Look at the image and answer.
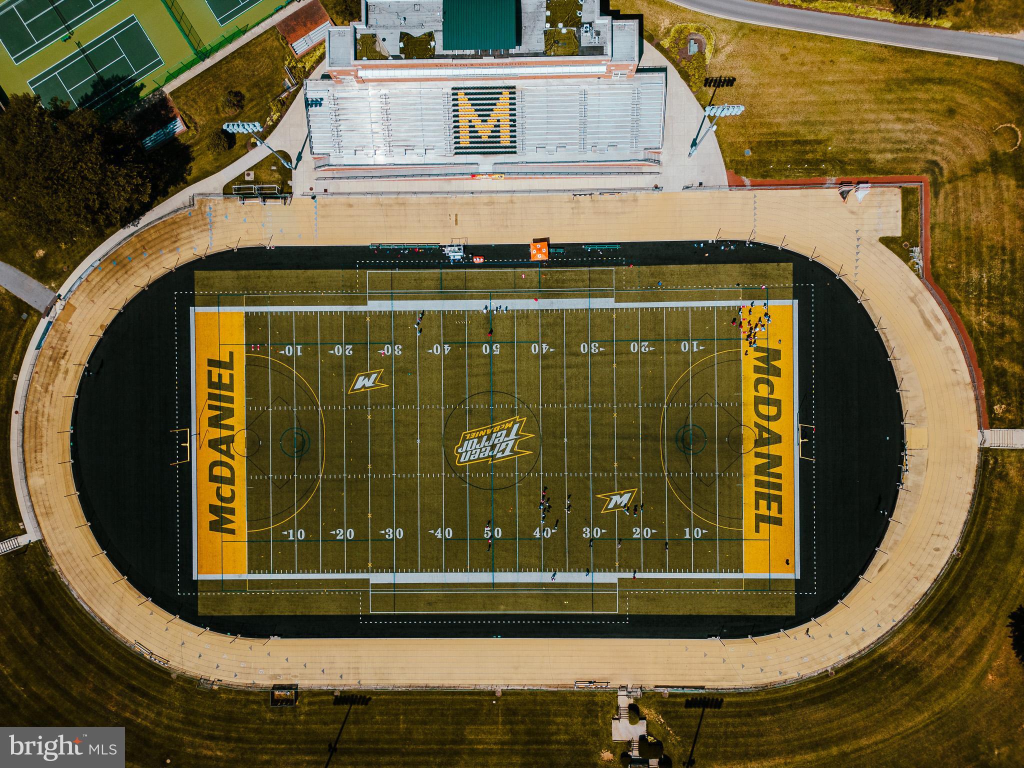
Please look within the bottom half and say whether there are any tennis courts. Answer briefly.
No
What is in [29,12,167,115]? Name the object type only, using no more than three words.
tennis court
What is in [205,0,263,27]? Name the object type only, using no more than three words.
tennis court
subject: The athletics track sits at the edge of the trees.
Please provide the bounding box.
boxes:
[22,188,978,686]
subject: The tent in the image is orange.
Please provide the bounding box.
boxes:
[531,243,548,263]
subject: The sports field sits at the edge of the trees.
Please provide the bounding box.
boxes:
[72,241,902,637]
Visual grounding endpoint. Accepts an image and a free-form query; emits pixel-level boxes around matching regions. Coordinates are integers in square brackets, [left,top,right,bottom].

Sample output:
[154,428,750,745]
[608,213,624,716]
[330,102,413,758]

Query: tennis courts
[0,0,119,65]
[29,12,167,115]
[205,0,263,27]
